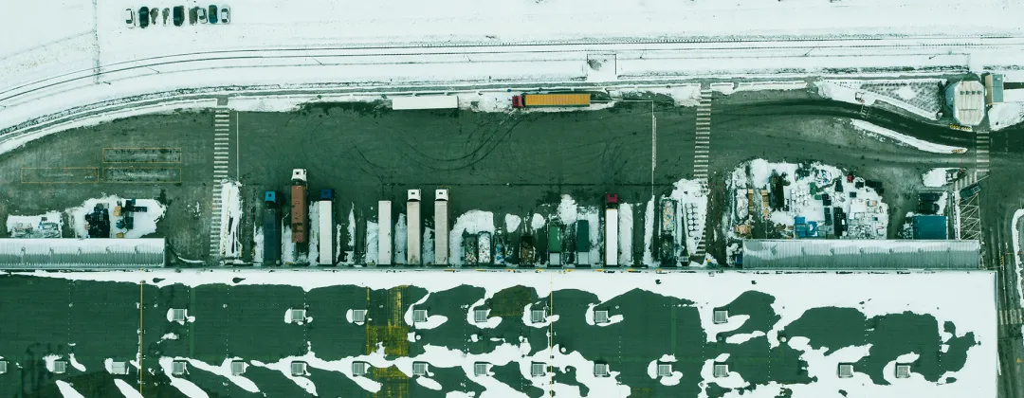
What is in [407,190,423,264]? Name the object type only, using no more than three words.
vehicle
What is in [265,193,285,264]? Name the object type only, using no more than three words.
vehicle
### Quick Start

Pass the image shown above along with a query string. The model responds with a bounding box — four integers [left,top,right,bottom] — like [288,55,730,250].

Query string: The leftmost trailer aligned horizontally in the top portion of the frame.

[393,96,460,112]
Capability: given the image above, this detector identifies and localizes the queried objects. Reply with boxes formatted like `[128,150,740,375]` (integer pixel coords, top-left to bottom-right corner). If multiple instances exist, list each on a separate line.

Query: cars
[915,203,939,213]
[140,8,151,28]
[126,8,137,29]
[916,192,939,202]
[221,6,232,25]
[174,7,184,26]
[208,5,219,24]
[198,7,209,25]
[956,183,981,198]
